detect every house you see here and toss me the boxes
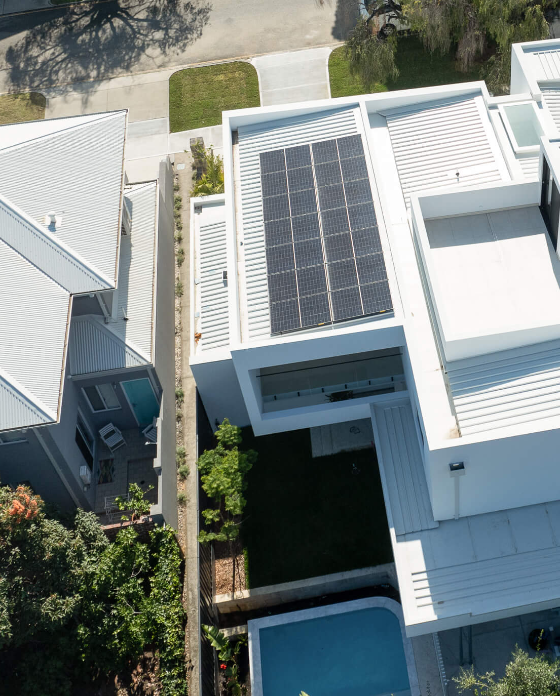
[185,39,560,639]
[0,105,156,511]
